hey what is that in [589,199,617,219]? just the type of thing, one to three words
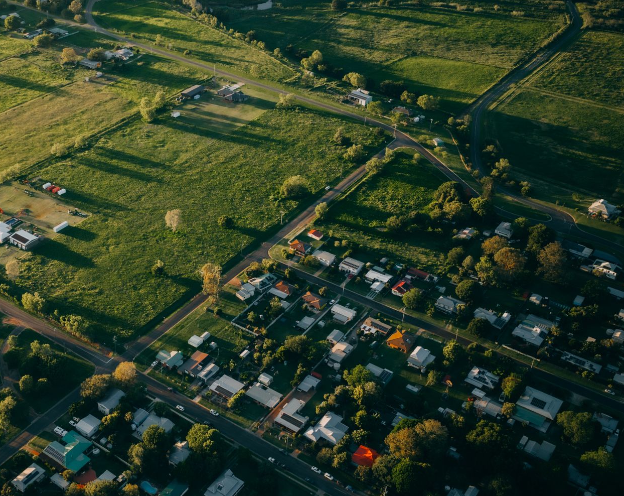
house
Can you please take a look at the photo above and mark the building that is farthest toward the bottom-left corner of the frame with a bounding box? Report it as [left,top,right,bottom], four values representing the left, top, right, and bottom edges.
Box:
[10,464,46,496]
